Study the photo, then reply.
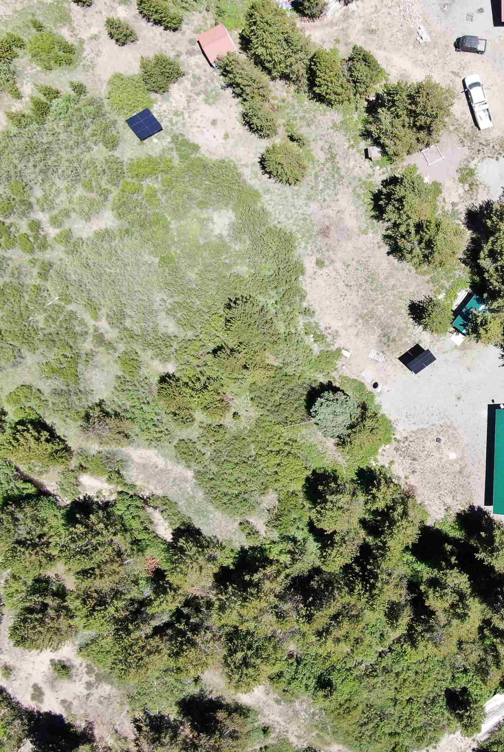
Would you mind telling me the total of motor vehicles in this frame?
two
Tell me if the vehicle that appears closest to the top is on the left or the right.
right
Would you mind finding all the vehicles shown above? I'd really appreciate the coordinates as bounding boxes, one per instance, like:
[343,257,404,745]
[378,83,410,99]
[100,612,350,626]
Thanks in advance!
[466,74,493,132]
[453,36,487,56]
